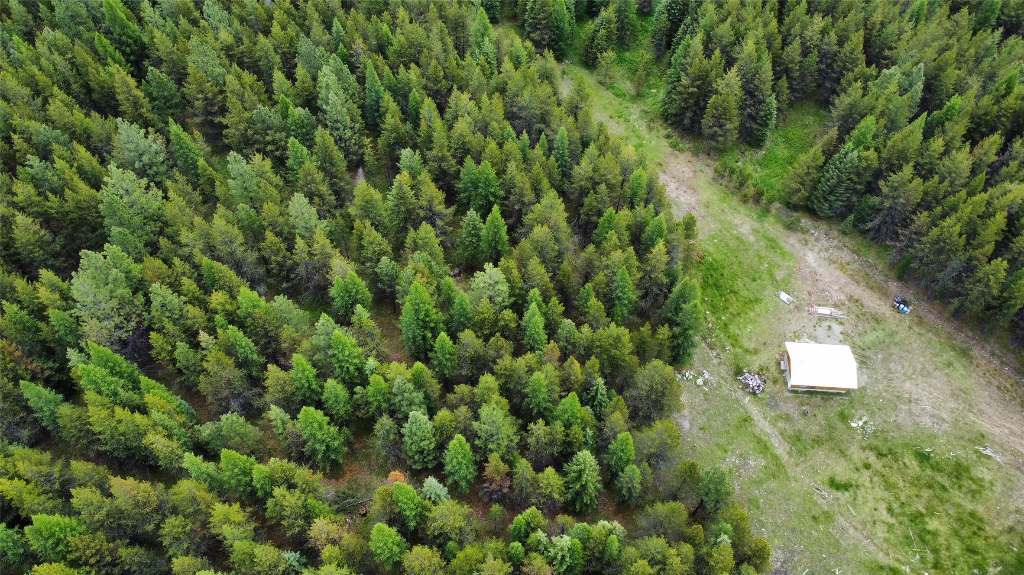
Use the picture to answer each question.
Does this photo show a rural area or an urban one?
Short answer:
rural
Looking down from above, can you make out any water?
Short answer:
No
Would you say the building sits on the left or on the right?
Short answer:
right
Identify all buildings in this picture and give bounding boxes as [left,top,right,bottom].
[782,342,857,393]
